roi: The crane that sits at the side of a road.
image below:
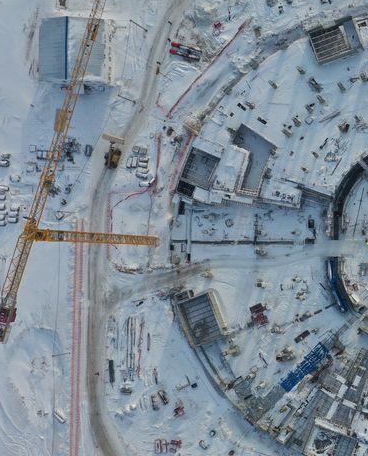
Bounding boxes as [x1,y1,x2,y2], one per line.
[0,0,167,350]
